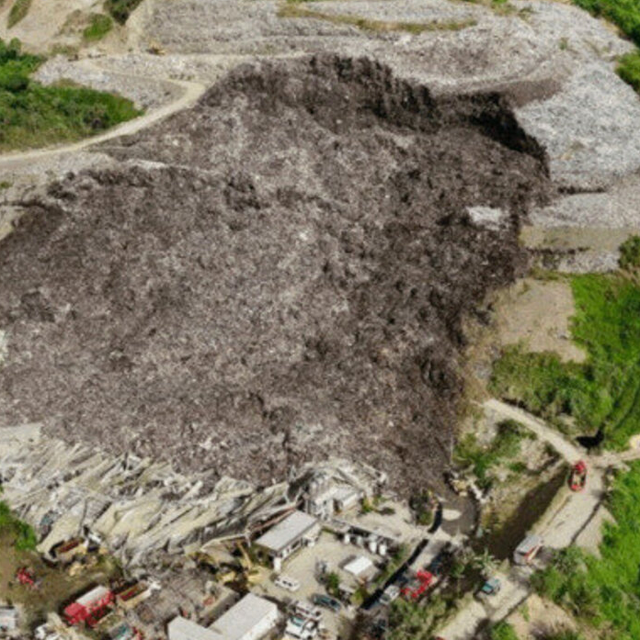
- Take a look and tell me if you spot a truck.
Yes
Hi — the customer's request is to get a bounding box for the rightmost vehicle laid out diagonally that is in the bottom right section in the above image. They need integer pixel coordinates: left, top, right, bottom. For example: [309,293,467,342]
[510,521,554,568]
